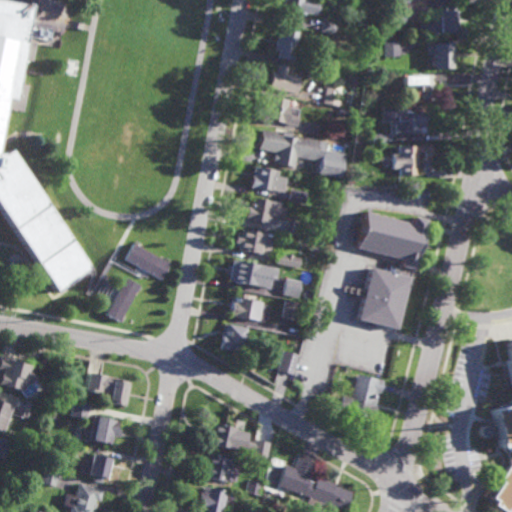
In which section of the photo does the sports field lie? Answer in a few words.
top left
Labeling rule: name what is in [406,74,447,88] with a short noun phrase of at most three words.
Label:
building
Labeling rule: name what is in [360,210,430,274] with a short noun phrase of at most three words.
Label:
building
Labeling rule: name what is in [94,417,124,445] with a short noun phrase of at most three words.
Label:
house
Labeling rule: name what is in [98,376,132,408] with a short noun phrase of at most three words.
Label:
house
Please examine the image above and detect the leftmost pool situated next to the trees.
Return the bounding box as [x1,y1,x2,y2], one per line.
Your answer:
[21,380,40,398]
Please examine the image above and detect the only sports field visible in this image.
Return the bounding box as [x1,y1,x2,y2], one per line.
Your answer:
[72,0,206,214]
